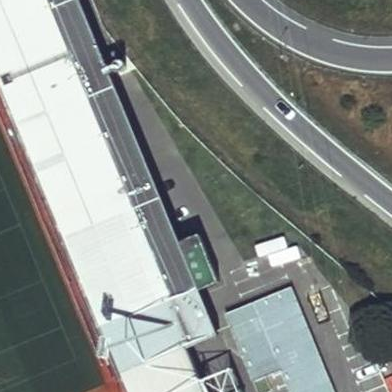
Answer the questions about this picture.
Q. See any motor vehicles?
Yes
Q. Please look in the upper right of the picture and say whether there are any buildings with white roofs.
No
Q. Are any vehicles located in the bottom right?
Yes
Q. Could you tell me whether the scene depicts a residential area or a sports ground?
sports ground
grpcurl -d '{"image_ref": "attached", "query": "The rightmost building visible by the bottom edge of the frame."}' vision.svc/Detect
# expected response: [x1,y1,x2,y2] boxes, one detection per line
[226,286,336,392]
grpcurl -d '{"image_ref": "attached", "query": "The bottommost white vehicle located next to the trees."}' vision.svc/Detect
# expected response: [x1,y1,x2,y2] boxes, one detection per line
[356,365,380,381]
